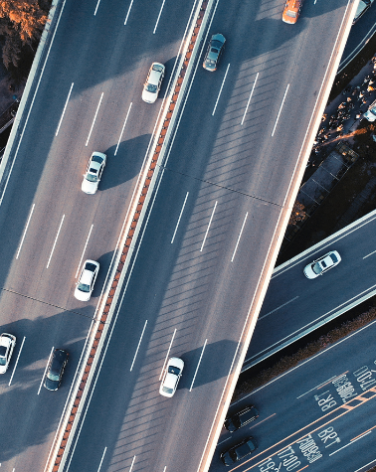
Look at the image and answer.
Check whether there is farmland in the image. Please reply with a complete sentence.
No, there's no farmland in this view.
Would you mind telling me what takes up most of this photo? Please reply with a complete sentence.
Most of the picture is covered by paved ground.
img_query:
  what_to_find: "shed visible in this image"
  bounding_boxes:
[295,148,356,218]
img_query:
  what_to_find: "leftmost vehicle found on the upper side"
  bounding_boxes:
[80,149,107,195]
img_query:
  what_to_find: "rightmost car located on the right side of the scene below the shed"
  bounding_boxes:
[302,249,342,279]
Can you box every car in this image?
[224,403,262,433]
[159,357,184,400]
[140,60,167,106]
[80,149,107,195]
[360,96,376,125]
[0,331,17,374]
[42,346,67,389]
[278,0,305,31]
[351,0,376,30]
[74,259,99,301]
[302,249,342,279]
[200,30,227,76]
